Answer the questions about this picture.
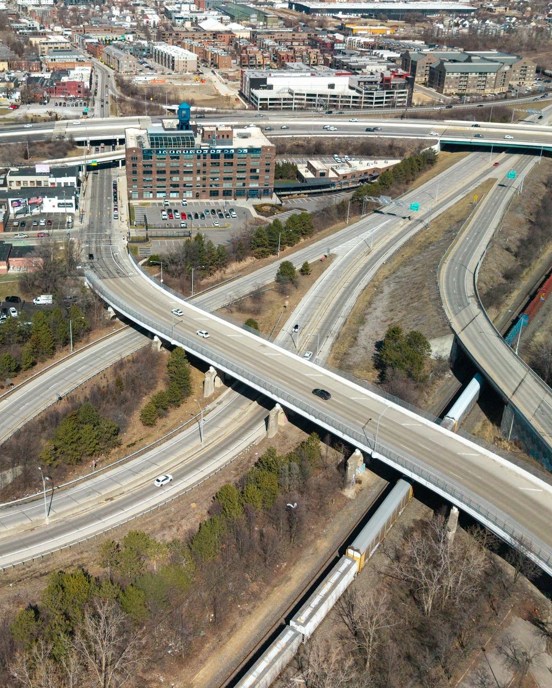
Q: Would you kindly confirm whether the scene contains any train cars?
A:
Yes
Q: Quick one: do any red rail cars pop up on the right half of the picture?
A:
Yes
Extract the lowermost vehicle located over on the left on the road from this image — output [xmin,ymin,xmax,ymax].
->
[153,475,172,487]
